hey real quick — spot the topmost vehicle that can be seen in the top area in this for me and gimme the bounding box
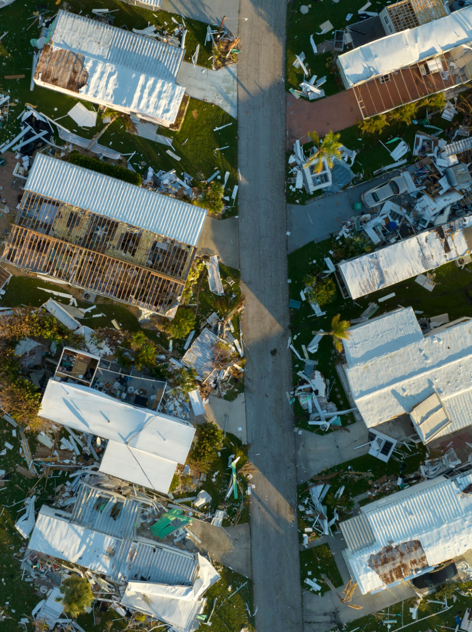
[360,174,406,207]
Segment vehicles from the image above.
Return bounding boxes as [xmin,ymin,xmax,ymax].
[360,174,406,207]
[411,563,464,595]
